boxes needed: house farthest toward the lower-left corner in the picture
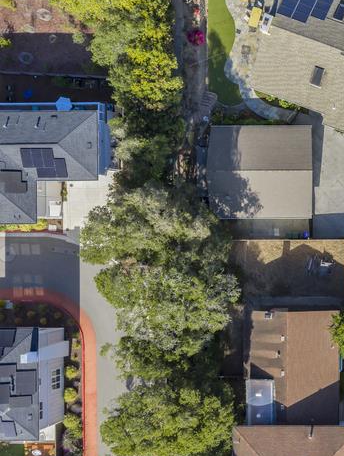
[0,323,70,441]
